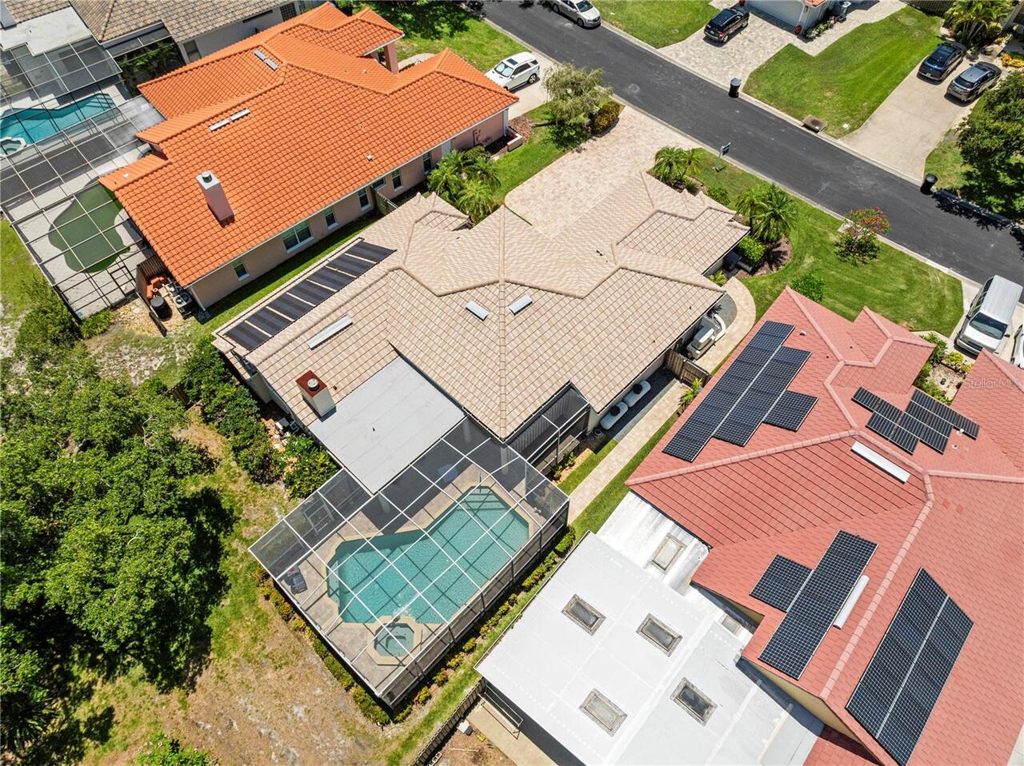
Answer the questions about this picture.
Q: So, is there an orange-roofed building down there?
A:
Yes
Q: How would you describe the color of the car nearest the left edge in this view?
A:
white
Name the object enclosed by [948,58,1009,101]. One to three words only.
car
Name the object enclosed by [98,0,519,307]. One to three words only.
house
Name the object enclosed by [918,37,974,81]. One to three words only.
car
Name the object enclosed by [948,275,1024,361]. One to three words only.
van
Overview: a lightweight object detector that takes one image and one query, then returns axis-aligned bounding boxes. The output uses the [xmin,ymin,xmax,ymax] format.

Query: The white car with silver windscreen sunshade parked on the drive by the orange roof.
[480,45,544,89]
